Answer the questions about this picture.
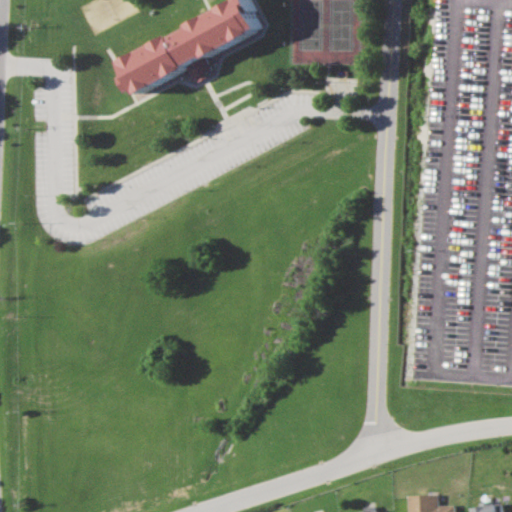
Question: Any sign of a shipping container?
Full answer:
No, no shipping container can be seen from above.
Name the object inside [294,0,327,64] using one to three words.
tennis court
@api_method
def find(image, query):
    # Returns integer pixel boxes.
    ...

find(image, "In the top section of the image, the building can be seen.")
[108,0,264,94]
